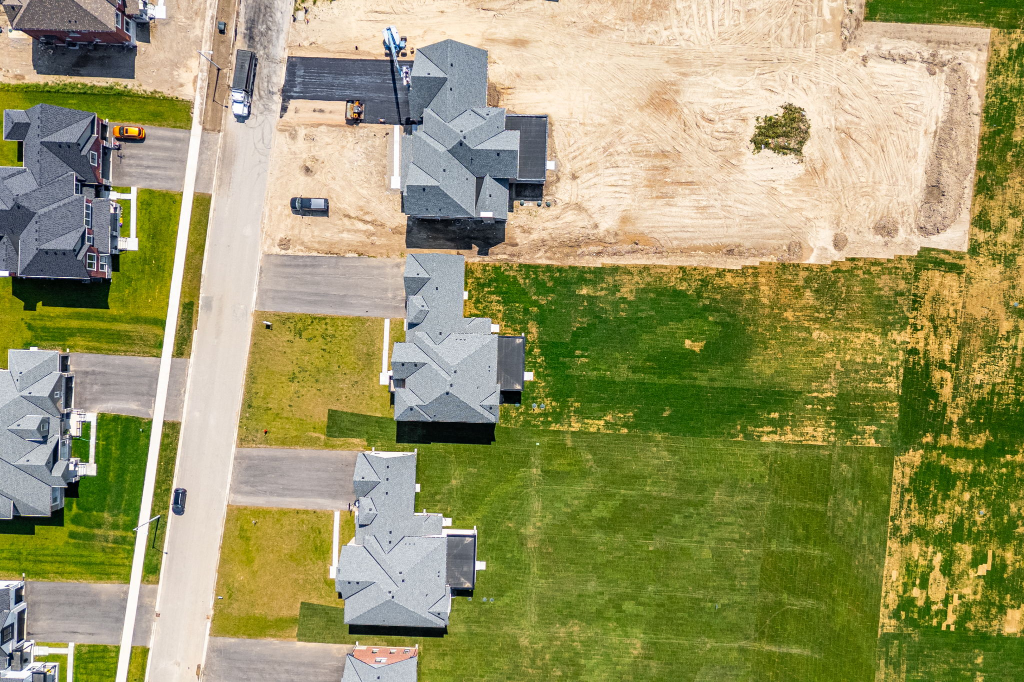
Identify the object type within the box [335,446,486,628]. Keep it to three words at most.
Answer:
house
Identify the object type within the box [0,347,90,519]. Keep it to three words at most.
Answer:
house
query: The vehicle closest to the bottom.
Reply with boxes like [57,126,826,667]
[170,487,189,516]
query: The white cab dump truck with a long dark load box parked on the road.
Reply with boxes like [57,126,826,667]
[228,50,260,120]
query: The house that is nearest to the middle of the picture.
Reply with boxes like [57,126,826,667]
[388,253,533,423]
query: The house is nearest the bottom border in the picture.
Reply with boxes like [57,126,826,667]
[338,640,418,682]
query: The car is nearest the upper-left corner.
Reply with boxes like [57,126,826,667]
[114,124,145,141]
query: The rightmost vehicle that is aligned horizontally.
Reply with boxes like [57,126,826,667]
[292,196,330,215]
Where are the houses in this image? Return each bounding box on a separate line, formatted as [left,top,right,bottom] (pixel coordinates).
[0,102,128,282]
[400,38,555,227]
[388,253,533,423]
[335,446,486,628]
[0,576,61,682]
[0,347,90,519]
[338,640,418,682]
[0,0,157,51]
